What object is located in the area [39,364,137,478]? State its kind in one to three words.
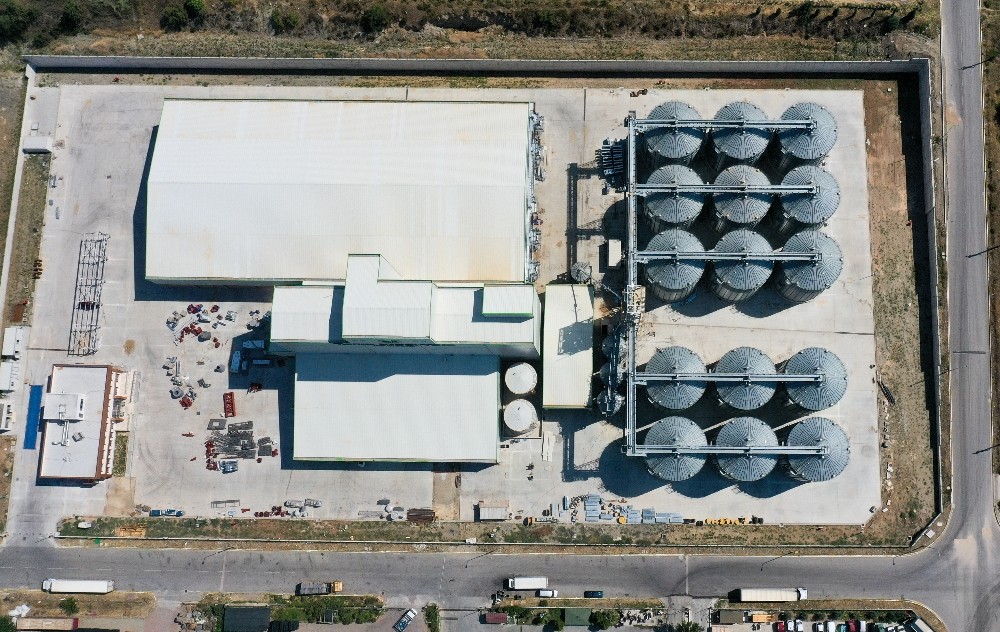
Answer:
building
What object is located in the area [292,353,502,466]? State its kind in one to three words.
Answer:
building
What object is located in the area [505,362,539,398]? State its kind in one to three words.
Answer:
storage tank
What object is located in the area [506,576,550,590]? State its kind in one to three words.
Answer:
vehicle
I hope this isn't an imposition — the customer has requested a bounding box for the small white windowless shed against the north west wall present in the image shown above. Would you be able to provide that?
[22,136,54,153]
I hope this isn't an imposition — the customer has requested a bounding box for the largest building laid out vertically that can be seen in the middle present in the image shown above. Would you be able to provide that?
[542,283,595,410]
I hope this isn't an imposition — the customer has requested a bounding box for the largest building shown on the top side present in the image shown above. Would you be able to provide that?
[146,99,532,288]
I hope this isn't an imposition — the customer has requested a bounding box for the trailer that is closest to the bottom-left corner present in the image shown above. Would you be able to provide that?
[16,616,81,630]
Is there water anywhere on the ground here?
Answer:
No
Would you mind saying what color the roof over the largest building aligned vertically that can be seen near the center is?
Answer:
white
